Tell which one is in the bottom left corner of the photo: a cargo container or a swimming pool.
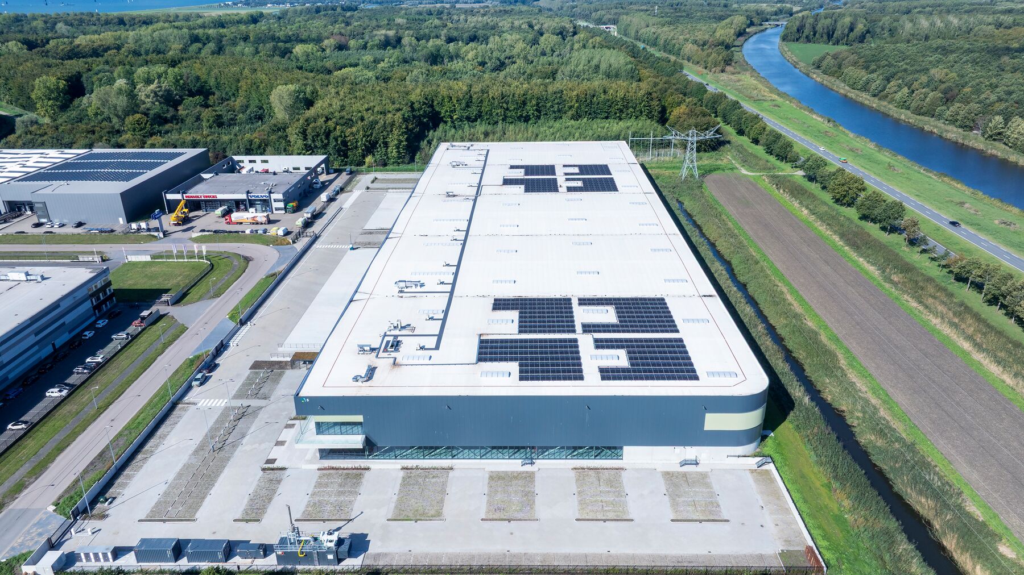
cargo container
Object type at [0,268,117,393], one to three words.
building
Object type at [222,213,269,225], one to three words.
vehicle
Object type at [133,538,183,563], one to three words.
shipping container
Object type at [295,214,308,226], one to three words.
vehicle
